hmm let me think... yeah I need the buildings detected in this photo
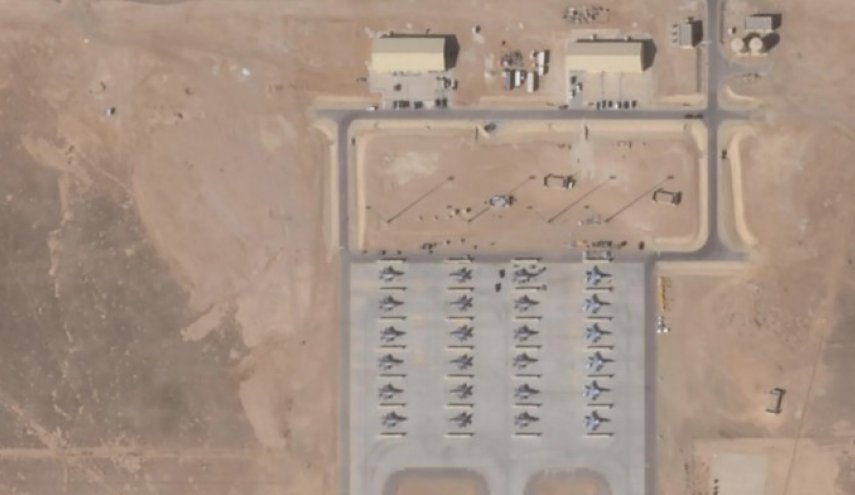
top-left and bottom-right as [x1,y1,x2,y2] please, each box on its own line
[746,17,773,31]
[565,42,644,73]
[680,23,694,48]
[371,38,447,72]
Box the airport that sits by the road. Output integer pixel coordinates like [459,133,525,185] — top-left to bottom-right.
[337,261,656,495]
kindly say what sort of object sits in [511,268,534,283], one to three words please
airplane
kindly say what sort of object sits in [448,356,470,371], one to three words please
airplane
